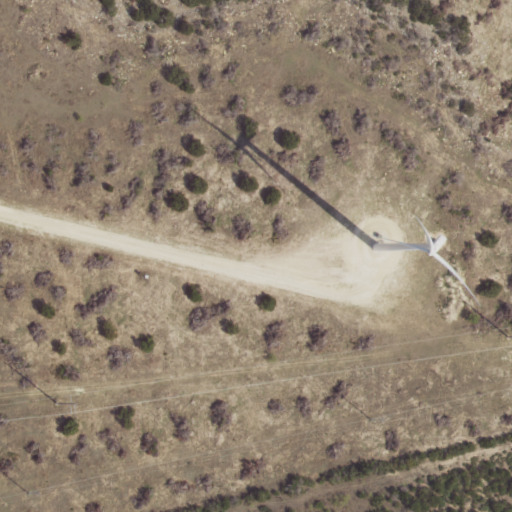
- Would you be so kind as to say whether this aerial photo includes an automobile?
No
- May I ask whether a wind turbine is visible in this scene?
Yes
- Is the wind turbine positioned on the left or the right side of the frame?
right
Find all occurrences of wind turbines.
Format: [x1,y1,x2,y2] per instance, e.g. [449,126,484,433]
[374,216,478,304]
